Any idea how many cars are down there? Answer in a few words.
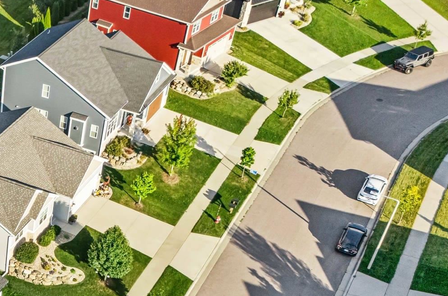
3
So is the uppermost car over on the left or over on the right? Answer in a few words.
right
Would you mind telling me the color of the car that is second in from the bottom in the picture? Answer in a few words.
white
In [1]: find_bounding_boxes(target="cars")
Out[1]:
[334,223,370,260]
[394,45,436,73]
[356,177,389,208]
